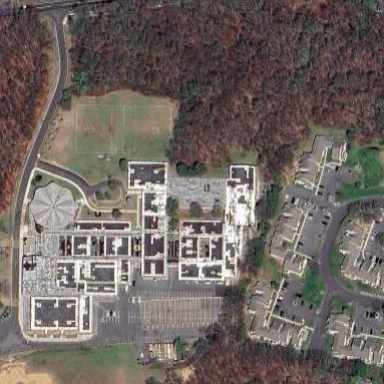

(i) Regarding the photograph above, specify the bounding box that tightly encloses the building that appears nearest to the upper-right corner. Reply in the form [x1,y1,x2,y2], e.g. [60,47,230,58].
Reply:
[294,133,349,187]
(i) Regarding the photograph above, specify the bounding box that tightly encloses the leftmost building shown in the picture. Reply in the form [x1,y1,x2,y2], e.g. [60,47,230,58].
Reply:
[29,181,78,230]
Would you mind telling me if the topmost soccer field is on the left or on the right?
left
